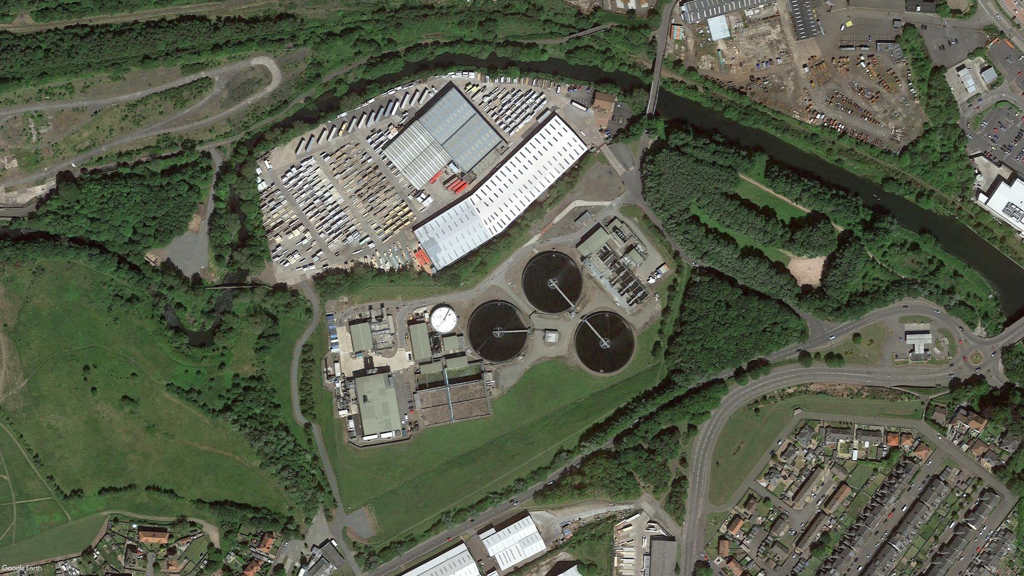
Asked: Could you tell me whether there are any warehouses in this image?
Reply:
Yes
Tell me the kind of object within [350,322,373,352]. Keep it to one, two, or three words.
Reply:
building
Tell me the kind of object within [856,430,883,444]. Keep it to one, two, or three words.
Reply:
house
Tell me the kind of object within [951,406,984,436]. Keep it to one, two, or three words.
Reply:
house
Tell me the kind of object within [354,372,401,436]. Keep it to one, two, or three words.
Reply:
building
